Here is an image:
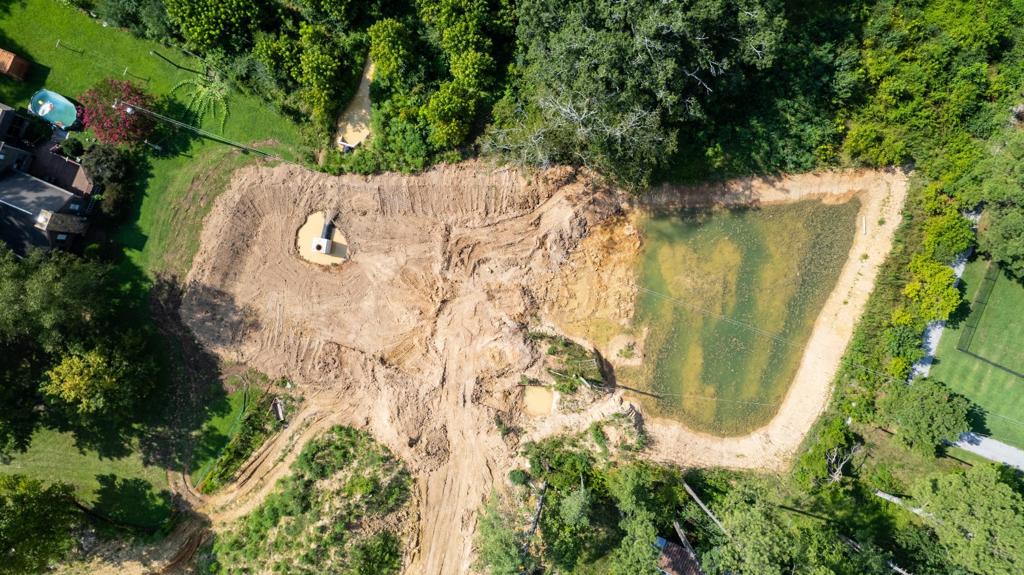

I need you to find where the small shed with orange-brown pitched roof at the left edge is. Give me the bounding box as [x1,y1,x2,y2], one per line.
[0,49,36,83]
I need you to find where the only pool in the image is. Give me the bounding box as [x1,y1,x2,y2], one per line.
[27,86,86,135]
